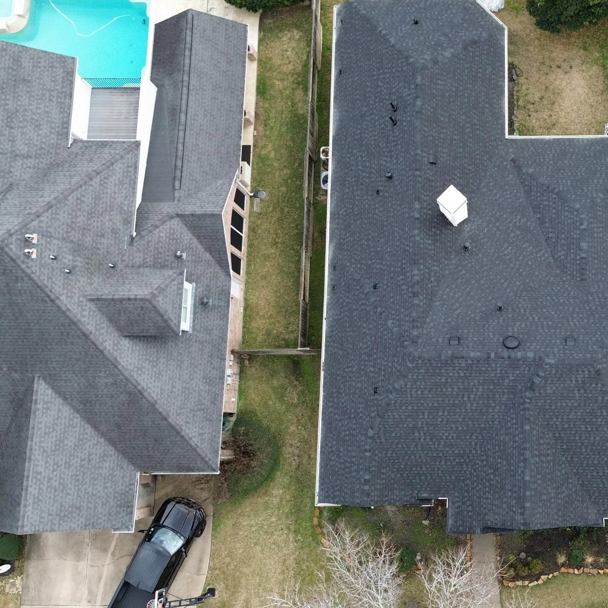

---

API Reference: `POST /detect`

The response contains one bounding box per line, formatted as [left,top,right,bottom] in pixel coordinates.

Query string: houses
[314,0,608,534]
[0,9,259,535]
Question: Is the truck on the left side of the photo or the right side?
left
